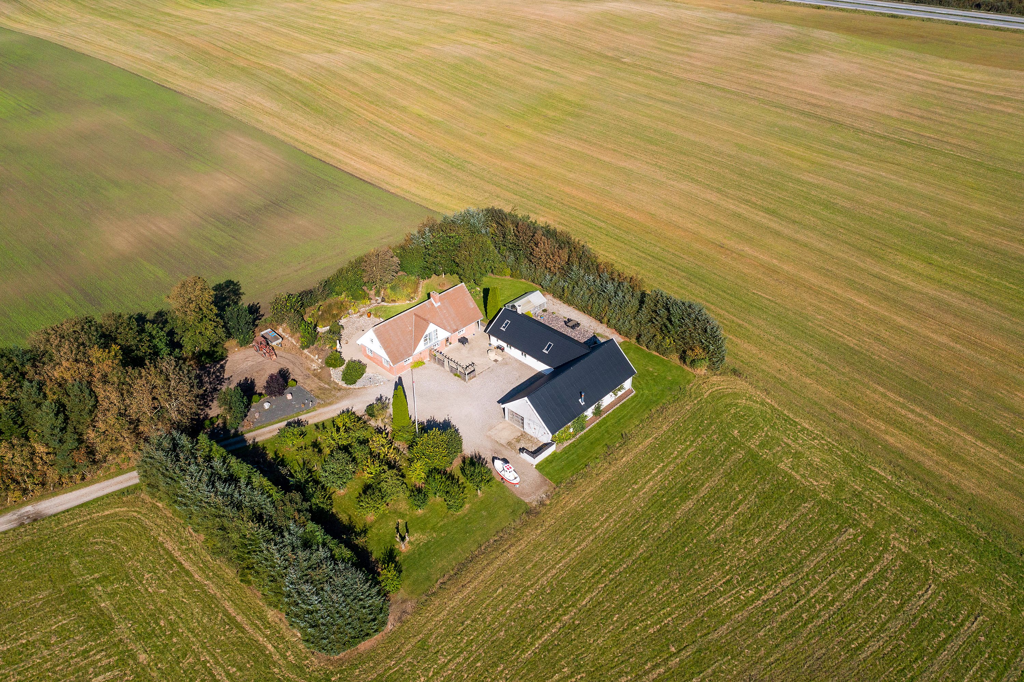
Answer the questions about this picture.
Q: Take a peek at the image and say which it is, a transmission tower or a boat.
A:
boat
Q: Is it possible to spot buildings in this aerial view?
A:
Yes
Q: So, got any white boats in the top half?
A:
No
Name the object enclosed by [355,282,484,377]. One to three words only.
house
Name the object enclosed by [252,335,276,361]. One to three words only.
work vehicle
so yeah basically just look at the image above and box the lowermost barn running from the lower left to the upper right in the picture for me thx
[500,338,637,445]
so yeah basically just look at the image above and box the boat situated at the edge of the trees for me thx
[492,455,521,488]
